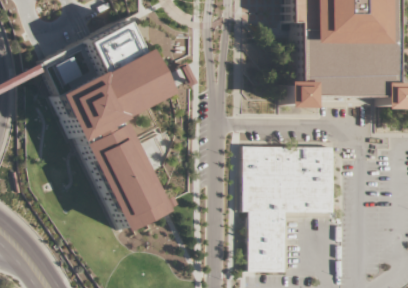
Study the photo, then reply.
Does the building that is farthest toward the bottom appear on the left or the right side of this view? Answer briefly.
right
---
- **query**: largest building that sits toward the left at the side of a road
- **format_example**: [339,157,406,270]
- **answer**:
[45,21,180,230]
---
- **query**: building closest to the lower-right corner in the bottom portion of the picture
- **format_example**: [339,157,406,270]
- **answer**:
[240,146,334,272]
